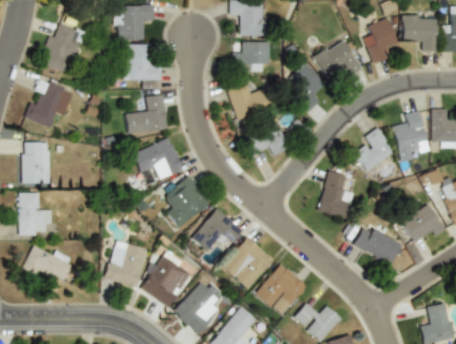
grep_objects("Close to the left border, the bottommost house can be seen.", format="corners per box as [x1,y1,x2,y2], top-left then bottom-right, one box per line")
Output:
[22,246,72,281]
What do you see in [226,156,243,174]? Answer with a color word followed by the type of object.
white camper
